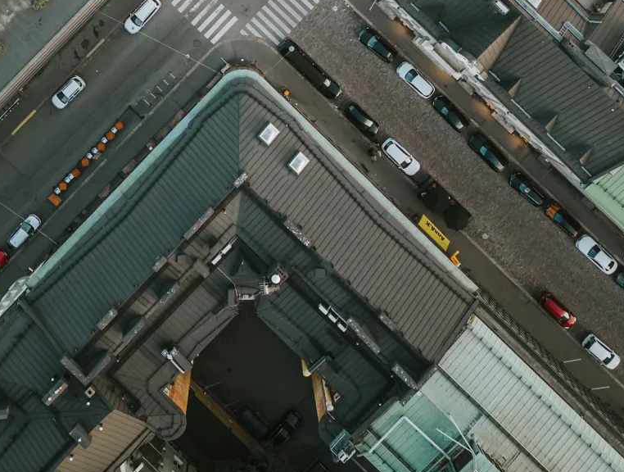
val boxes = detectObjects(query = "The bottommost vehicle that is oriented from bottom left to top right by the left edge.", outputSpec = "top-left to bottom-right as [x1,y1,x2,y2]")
[1,209,46,254]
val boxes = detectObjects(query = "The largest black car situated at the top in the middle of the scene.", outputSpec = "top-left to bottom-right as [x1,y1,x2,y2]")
[274,36,344,102]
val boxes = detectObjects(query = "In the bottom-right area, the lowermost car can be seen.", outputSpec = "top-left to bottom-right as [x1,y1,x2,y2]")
[576,326,623,372]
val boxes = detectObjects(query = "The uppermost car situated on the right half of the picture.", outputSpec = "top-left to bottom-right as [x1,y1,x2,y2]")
[354,22,401,68]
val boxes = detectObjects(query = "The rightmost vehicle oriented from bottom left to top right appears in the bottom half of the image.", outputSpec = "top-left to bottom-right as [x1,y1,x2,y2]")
[265,403,308,450]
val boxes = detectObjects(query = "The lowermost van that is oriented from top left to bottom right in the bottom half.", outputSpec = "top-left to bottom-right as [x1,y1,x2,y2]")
[231,398,273,443]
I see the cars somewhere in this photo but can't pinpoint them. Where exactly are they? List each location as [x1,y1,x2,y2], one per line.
[541,199,584,240]
[611,265,624,289]
[1,209,46,254]
[427,92,470,134]
[48,69,89,112]
[274,36,344,102]
[376,133,423,178]
[536,289,578,331]
[354,22,401,68]
[342,100,381,138]
[574,232,619,275]
[392,58,438,102]
[463,129,511,174]
[505,167,549,209]
[120,0,166,36]
[576,326,623,372]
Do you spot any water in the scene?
No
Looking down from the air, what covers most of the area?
buildings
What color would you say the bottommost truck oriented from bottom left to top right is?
black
